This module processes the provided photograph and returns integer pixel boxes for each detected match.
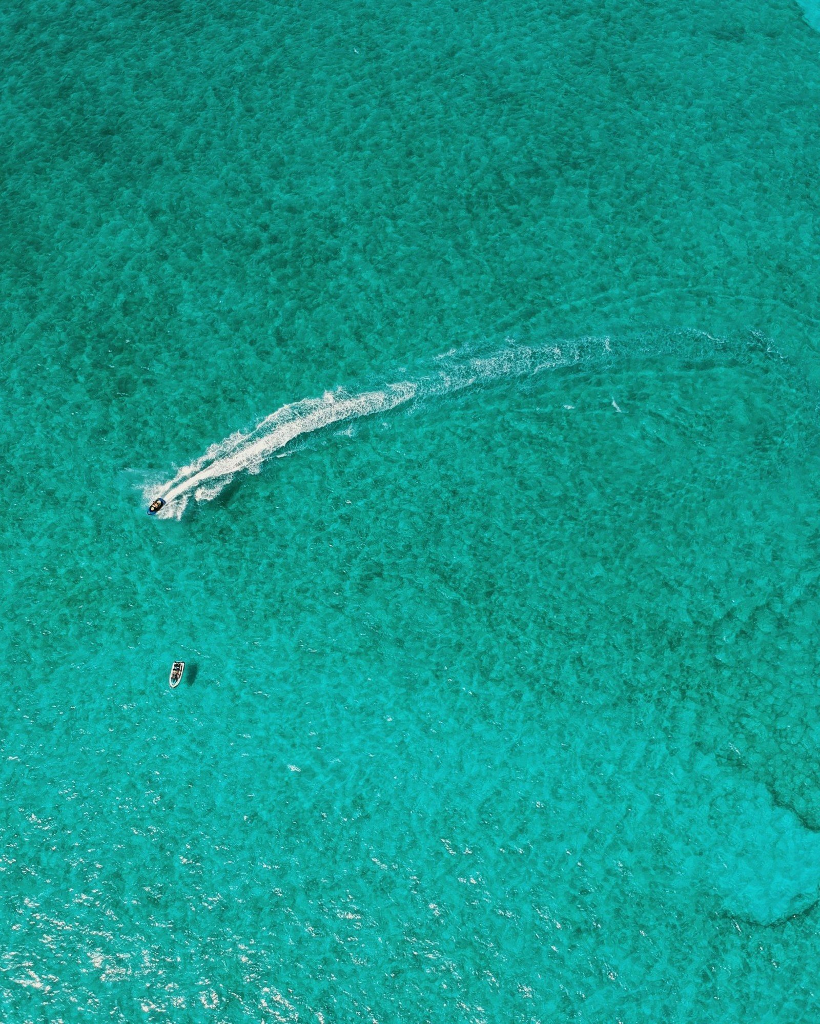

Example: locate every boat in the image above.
[169,660,185,688]
[147,498,166,515]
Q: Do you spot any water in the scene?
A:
Yes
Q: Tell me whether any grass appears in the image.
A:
No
